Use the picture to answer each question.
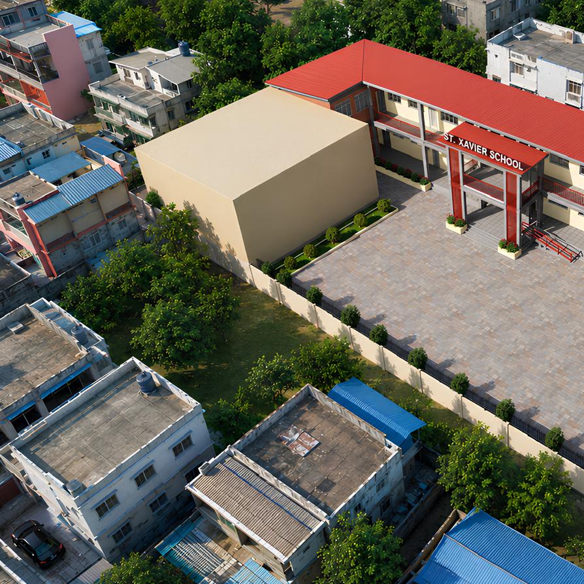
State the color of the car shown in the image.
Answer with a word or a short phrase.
black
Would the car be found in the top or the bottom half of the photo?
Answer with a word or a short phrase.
bottom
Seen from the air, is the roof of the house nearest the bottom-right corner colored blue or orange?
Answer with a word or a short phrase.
blue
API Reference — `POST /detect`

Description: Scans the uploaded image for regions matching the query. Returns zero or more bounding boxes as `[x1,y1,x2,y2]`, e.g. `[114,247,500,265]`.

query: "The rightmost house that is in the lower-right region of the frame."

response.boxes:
[400,507,584,584]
